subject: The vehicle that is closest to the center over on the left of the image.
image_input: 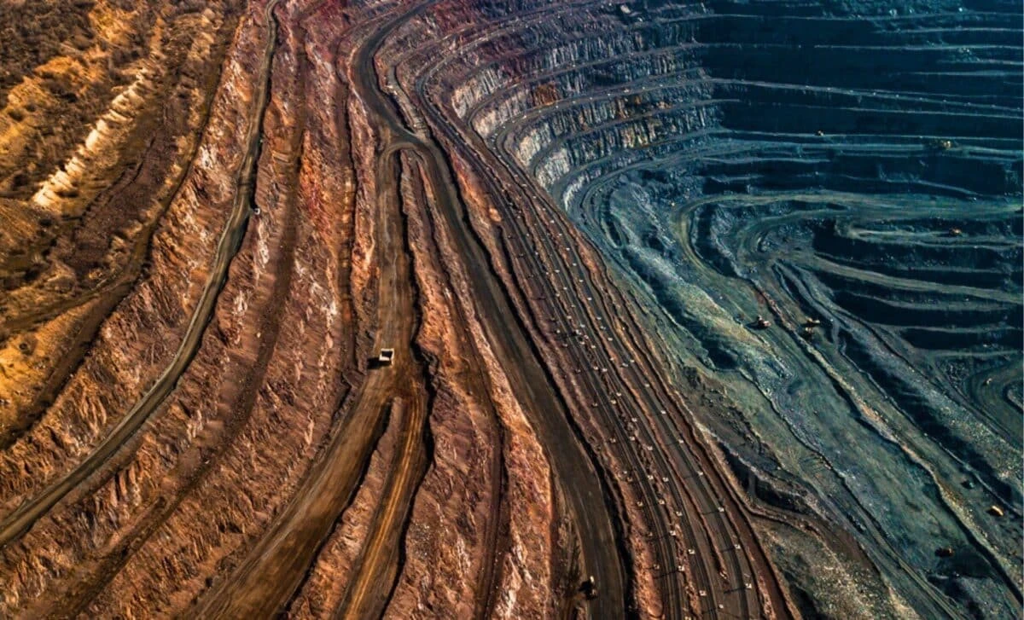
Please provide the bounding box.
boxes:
[376,347,393,368]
